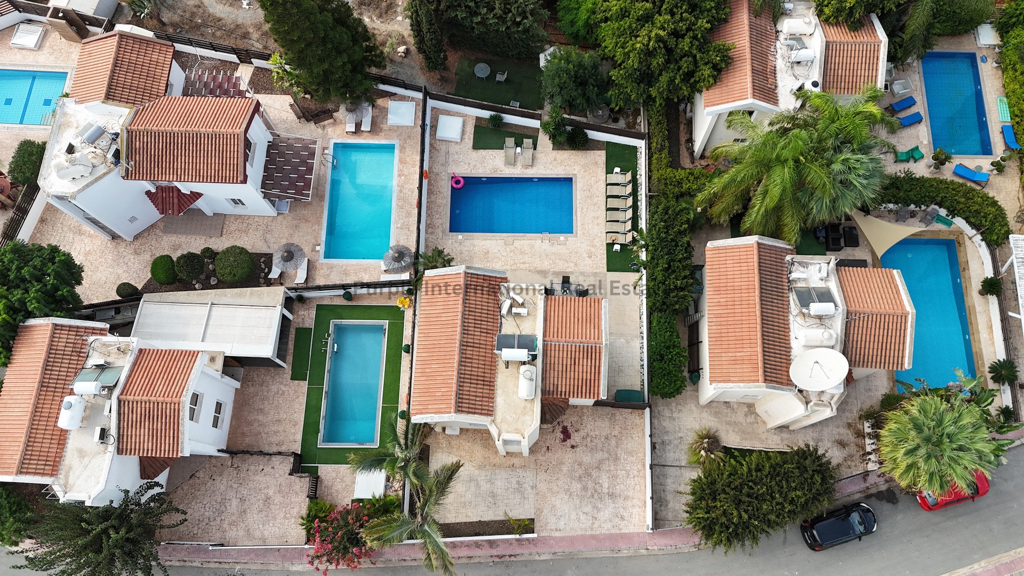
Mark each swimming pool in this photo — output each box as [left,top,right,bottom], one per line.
[869,232,991,404]
[0,66,73,129]
[919,48,1000,159]
[445,173,576,243]
[320,321,386,446]
[315,139,402,263]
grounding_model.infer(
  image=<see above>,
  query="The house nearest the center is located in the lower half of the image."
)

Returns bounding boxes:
[409,262,614,457]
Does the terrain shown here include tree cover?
Yes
